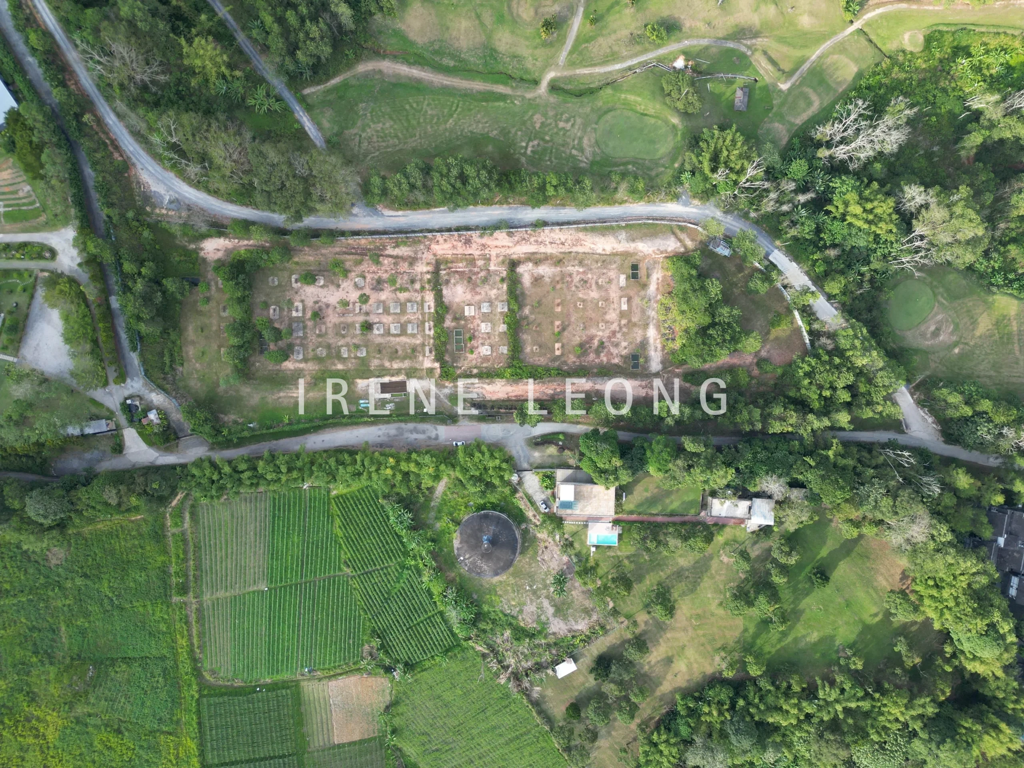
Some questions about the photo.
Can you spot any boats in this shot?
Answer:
No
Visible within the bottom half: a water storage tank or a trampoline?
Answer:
water storage tank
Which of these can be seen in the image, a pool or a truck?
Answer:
pool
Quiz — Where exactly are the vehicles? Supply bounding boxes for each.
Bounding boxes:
[453,441,465,446]
[540,501,550,513]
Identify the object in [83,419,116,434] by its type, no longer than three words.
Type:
shed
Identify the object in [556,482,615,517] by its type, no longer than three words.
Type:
house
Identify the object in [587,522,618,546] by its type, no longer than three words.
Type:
swimming pool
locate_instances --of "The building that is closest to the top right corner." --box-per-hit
[732,82,749,113]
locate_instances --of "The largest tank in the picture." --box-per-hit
[454,508,521,578]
